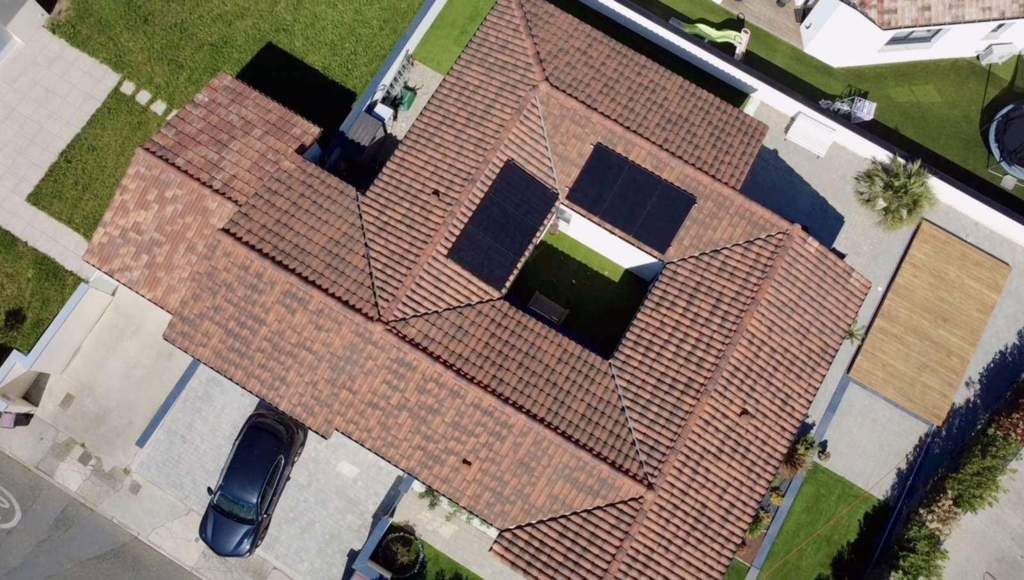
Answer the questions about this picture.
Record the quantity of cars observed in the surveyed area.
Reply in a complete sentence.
The photo contains exactly 1 car.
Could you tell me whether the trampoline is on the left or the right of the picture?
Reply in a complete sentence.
The trampoline appears in the right half of the scene.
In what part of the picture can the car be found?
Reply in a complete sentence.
The car appears toward the bottom left of the photo.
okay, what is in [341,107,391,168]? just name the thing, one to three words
shed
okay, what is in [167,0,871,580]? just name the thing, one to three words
house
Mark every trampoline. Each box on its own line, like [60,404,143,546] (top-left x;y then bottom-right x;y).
[977,97,1024,177]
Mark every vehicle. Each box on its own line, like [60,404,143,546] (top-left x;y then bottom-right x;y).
[202,401,311,560]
